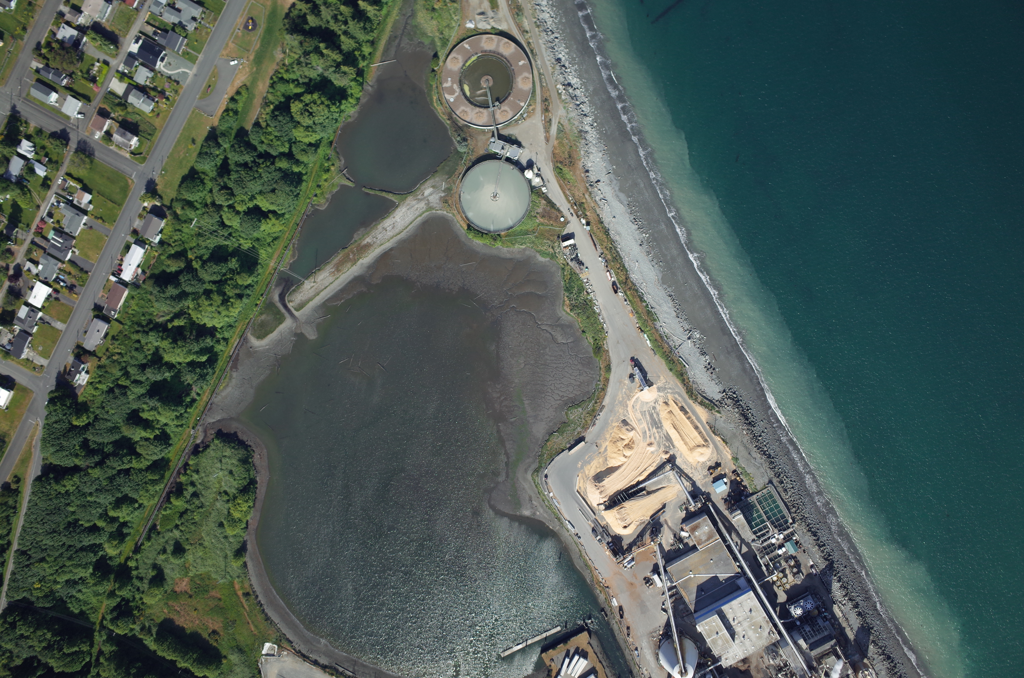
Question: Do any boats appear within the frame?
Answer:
No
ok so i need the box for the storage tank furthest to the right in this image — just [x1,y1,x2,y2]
[842,647,873,678]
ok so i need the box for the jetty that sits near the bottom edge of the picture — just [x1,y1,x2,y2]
[501,626,561,658]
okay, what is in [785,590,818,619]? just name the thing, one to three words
cooling tower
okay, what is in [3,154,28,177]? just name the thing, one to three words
house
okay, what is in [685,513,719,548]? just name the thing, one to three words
building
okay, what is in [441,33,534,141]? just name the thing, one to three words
storage tank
